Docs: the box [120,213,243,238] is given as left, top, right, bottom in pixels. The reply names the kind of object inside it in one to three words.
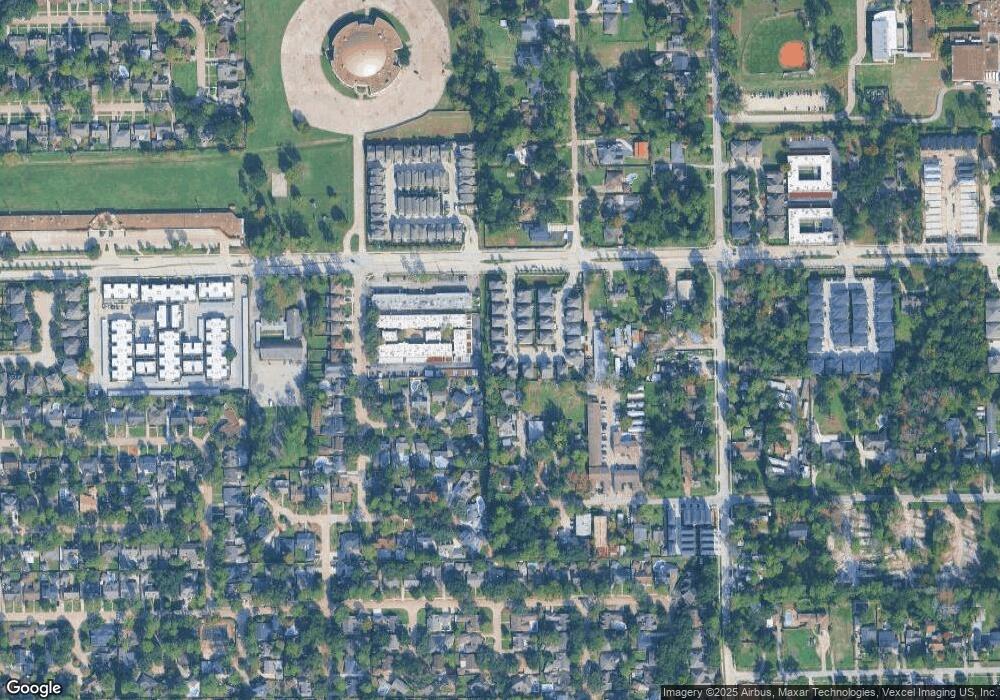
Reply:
building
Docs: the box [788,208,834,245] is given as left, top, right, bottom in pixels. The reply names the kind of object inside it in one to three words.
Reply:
building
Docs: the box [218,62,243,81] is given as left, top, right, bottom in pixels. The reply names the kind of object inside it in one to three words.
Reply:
house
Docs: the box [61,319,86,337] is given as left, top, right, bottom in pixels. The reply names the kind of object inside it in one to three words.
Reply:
house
